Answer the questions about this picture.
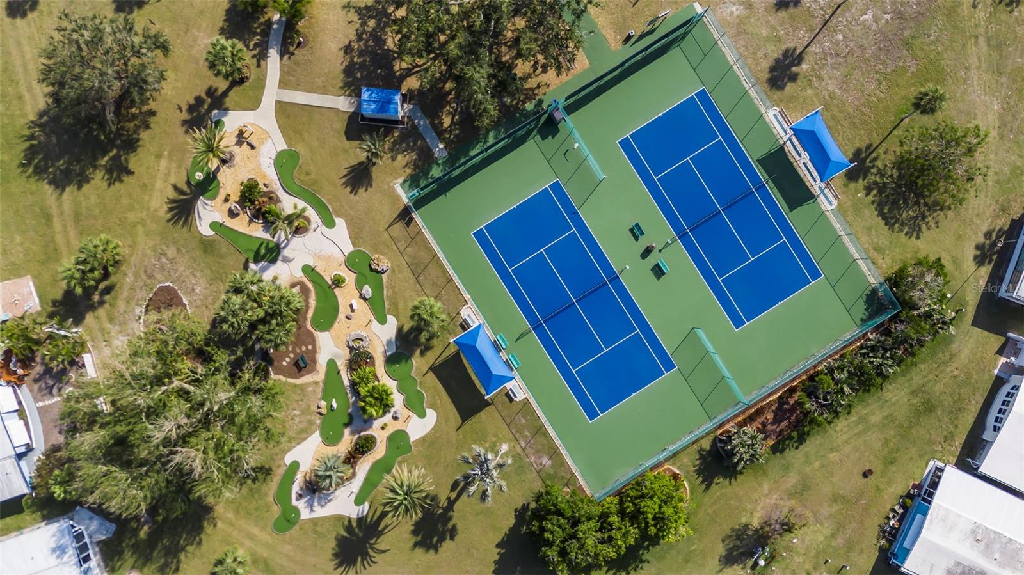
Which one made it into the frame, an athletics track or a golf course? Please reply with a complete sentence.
Of the two, only a golf course appears.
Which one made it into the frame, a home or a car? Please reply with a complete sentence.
The one in the frame is a home.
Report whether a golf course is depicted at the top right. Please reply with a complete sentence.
No, no golf course can be made out at the top right.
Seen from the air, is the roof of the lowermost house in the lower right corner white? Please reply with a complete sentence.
Yes, white is the color of the roof of the lowermost house in the lower right corner.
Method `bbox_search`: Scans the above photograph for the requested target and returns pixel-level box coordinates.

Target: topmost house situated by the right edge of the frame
[990,221,1024,305]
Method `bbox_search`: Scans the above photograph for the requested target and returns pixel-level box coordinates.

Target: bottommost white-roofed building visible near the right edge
[891,456,1024,575]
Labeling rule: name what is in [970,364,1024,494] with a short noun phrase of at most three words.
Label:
house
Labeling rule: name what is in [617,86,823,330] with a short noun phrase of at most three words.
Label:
tennis court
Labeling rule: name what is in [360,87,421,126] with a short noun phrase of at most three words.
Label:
shed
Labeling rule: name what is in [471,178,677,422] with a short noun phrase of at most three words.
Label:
tennis court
